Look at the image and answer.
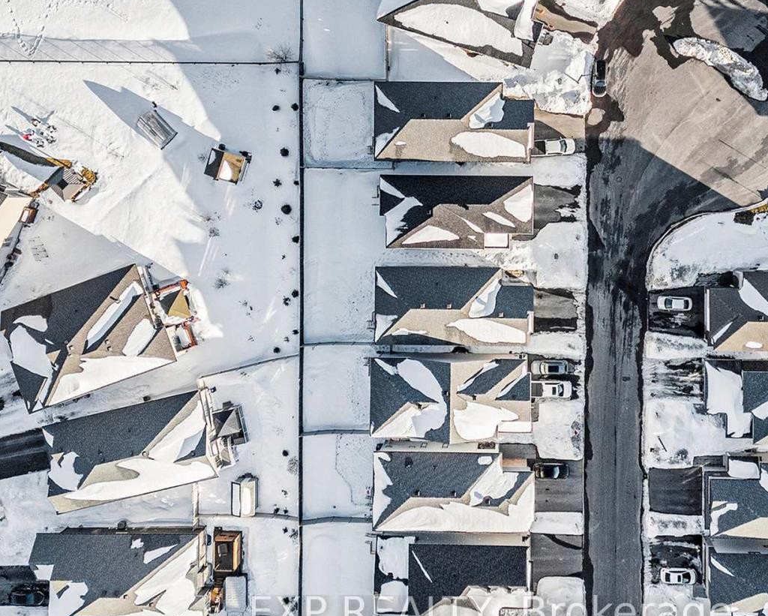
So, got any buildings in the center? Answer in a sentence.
Yes, I can see a building in the center.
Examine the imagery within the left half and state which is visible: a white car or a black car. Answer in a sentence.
There is a black car within the left half.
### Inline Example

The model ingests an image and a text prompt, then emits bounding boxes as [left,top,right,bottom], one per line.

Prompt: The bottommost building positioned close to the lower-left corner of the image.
[36,526,210,616]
